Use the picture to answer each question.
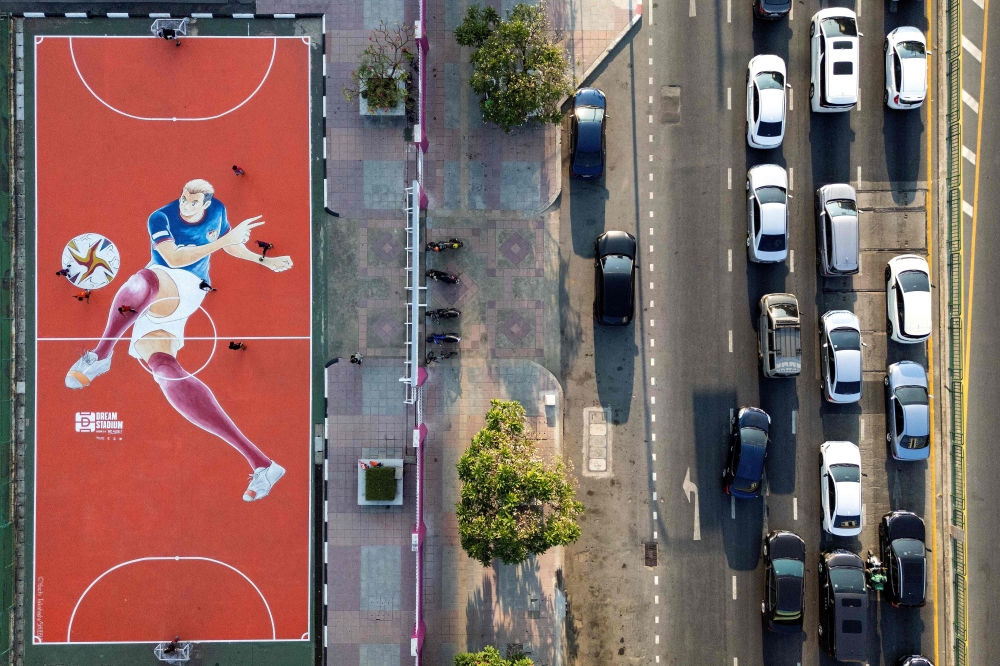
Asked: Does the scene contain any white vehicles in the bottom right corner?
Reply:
Yes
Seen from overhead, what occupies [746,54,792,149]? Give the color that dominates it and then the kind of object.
white car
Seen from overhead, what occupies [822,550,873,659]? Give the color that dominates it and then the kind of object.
black vehicle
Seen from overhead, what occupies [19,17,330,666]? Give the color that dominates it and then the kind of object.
red sports court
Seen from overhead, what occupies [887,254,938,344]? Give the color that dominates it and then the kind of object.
white car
